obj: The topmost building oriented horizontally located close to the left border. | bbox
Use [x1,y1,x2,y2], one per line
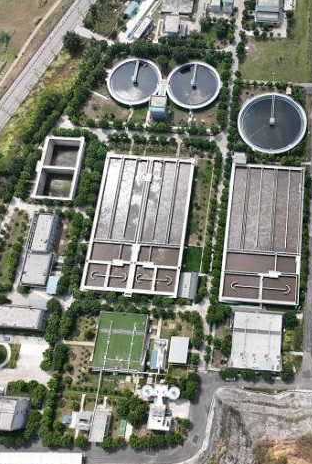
[0,305,48,330]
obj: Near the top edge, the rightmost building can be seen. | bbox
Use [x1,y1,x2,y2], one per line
[257,0,281,26]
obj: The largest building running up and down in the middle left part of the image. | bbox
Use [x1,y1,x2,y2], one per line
[18,213,60,286]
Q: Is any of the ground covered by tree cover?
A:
Yes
